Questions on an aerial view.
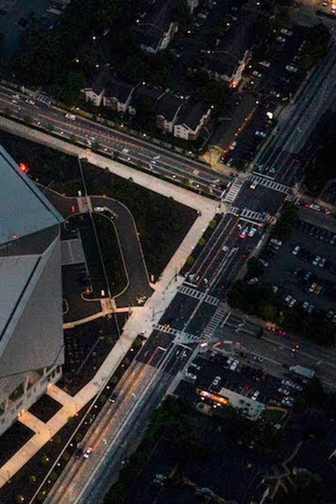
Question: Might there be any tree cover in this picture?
Yes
